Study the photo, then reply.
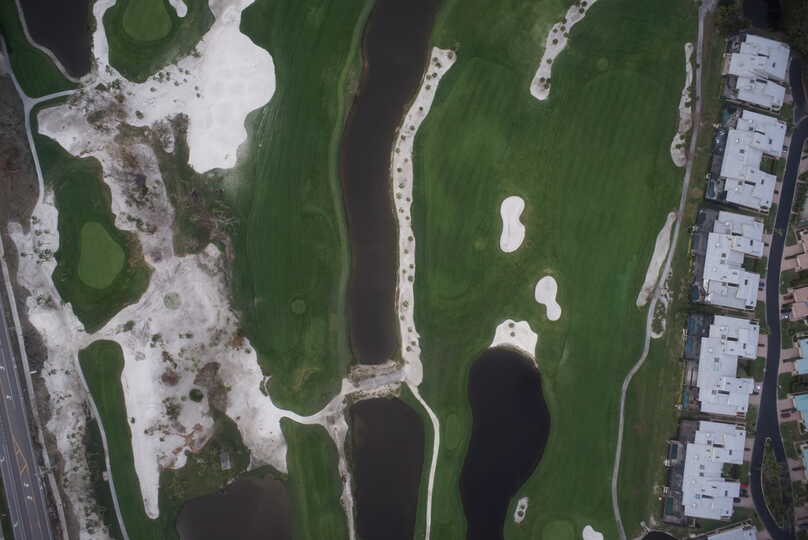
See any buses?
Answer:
No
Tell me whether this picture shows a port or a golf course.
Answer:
golf course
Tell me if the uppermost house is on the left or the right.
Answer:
right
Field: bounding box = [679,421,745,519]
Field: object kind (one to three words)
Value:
house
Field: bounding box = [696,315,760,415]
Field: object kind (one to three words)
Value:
house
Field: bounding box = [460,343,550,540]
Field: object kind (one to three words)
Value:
pond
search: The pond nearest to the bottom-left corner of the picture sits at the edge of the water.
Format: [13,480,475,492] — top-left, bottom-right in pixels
[176,472,291,540]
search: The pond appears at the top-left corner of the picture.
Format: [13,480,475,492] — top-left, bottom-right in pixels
[21,0,92,78]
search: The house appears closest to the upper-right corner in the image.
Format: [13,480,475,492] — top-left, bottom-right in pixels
[727,34,790,108]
